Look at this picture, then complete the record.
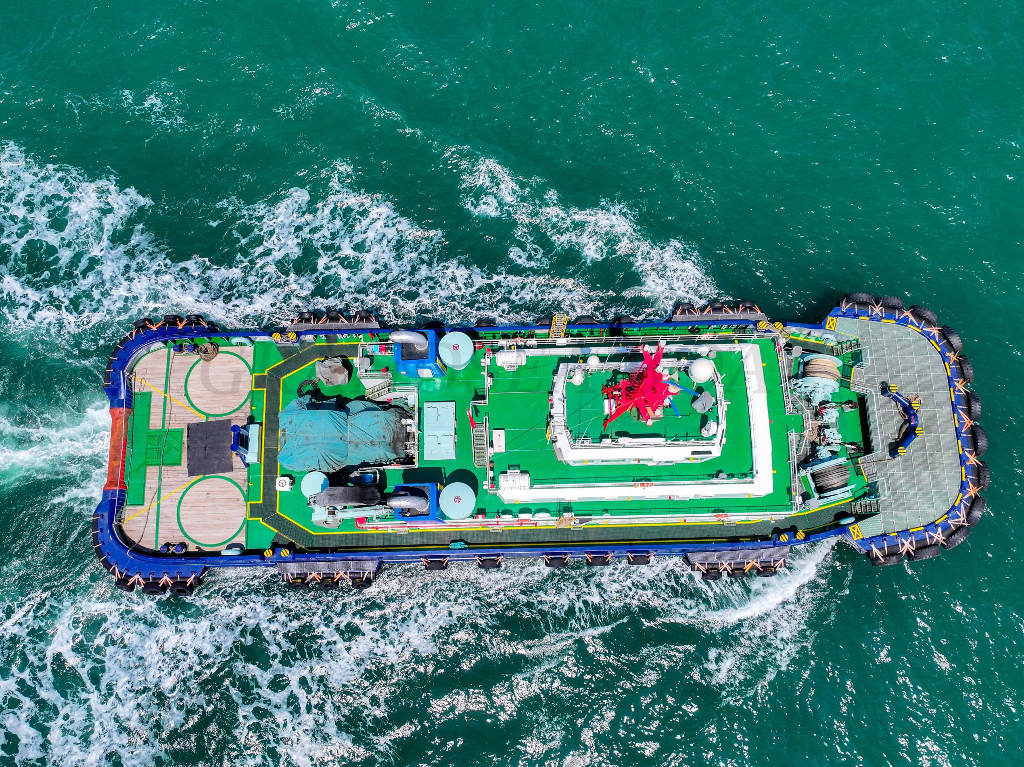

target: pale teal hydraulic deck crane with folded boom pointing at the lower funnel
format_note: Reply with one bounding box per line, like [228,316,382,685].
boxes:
[307,495,390,527]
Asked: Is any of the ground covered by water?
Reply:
Yes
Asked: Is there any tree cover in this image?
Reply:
No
